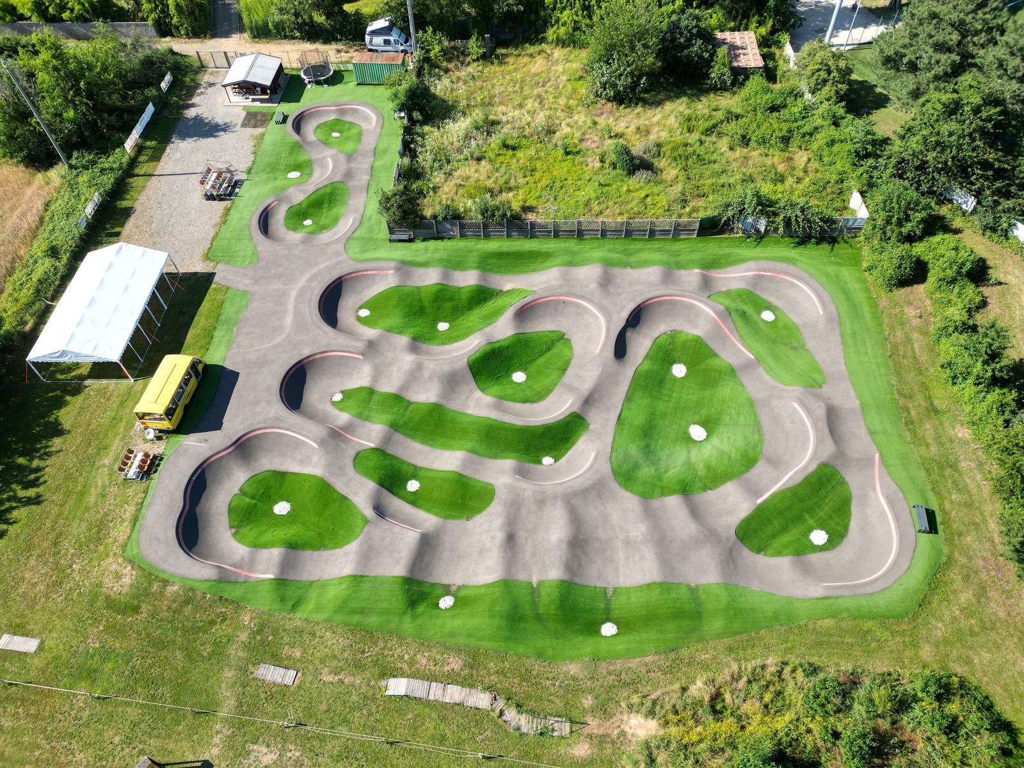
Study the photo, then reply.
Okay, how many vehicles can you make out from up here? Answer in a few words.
2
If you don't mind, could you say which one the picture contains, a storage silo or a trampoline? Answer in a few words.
trampoline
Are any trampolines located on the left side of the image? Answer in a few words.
Yes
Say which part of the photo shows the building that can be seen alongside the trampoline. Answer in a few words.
top left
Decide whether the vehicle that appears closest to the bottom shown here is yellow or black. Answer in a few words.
yellow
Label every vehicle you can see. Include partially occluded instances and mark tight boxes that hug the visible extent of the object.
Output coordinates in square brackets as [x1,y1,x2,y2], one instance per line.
[365,11,417,51]
[136,355,210,435]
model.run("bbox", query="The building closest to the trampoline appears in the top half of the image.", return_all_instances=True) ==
[219,52,290,107]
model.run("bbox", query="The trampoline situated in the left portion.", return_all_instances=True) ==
[297,49,335,85]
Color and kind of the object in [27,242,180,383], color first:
white tent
